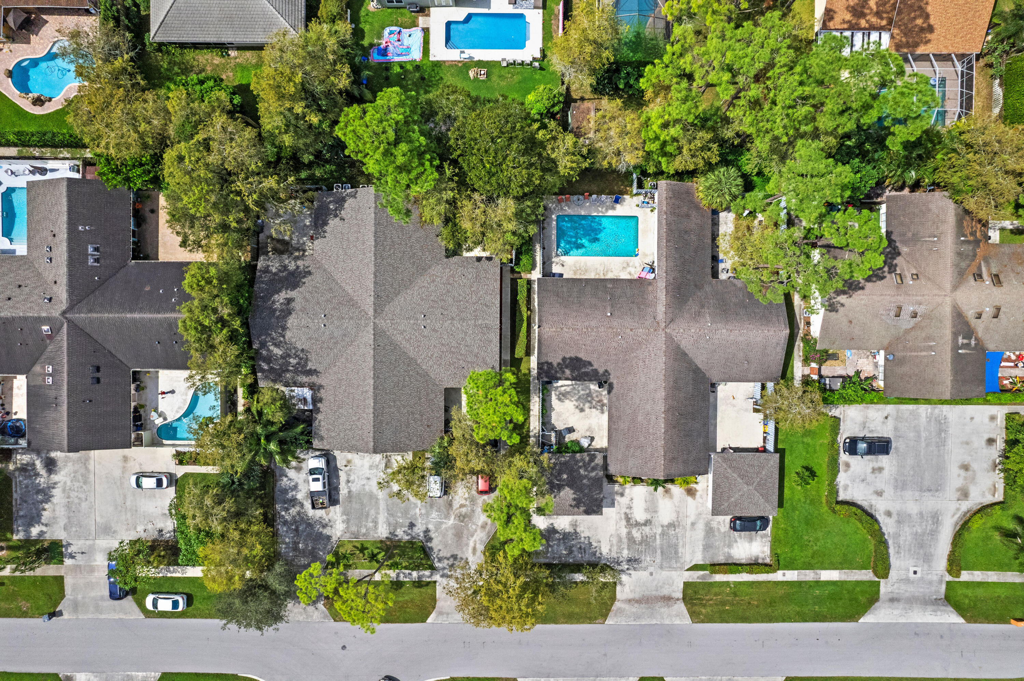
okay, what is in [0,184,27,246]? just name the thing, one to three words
swimming pool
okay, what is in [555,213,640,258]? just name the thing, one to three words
swimming pool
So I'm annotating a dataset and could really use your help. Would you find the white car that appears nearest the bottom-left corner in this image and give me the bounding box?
[145,592,187,613]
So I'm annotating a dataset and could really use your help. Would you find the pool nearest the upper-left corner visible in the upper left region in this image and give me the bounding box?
[8,35,102,101]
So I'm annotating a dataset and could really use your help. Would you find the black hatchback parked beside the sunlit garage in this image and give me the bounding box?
[729,515,767,533]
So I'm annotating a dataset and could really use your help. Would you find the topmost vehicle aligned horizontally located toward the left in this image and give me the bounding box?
[128,471,171,491]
